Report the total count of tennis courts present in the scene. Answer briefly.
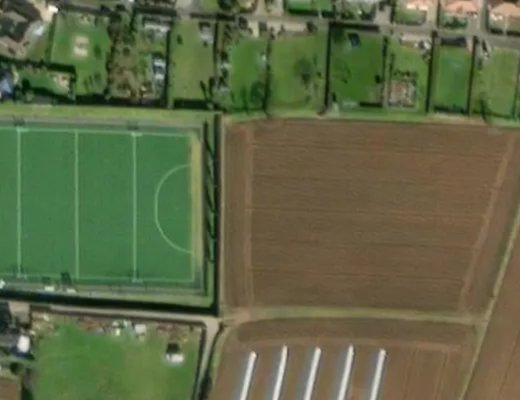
none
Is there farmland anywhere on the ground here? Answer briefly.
Yes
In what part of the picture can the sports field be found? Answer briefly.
left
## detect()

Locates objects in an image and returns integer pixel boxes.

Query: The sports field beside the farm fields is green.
[0,117,204,290]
